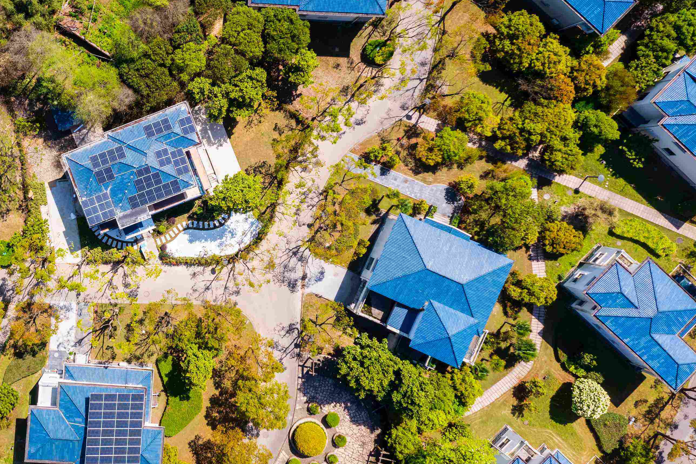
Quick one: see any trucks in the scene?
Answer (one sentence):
No, the frame has no truck in it.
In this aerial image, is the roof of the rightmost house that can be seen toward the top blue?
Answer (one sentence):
Yes, the roof of the rightmost house that can be seen toward the top is blue.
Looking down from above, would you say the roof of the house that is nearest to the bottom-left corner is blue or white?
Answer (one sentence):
From above, the roof of the house that is nearest to the bottom-left corner appears blue.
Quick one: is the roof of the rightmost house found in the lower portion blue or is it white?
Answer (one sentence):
From above, the roof of the rightmost house found in the lower portion appears blue.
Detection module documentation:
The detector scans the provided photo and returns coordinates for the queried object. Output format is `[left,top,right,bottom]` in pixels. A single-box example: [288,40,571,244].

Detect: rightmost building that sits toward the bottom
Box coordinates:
[549,240,696,395]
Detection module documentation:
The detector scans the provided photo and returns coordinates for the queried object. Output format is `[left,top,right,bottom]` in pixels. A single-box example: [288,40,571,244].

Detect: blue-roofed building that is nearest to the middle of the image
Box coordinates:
[343,212,516,370]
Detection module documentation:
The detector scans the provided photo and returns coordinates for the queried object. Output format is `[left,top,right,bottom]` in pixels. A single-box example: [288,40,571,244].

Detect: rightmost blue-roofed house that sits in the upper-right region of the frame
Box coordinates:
[614,56,696,189]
